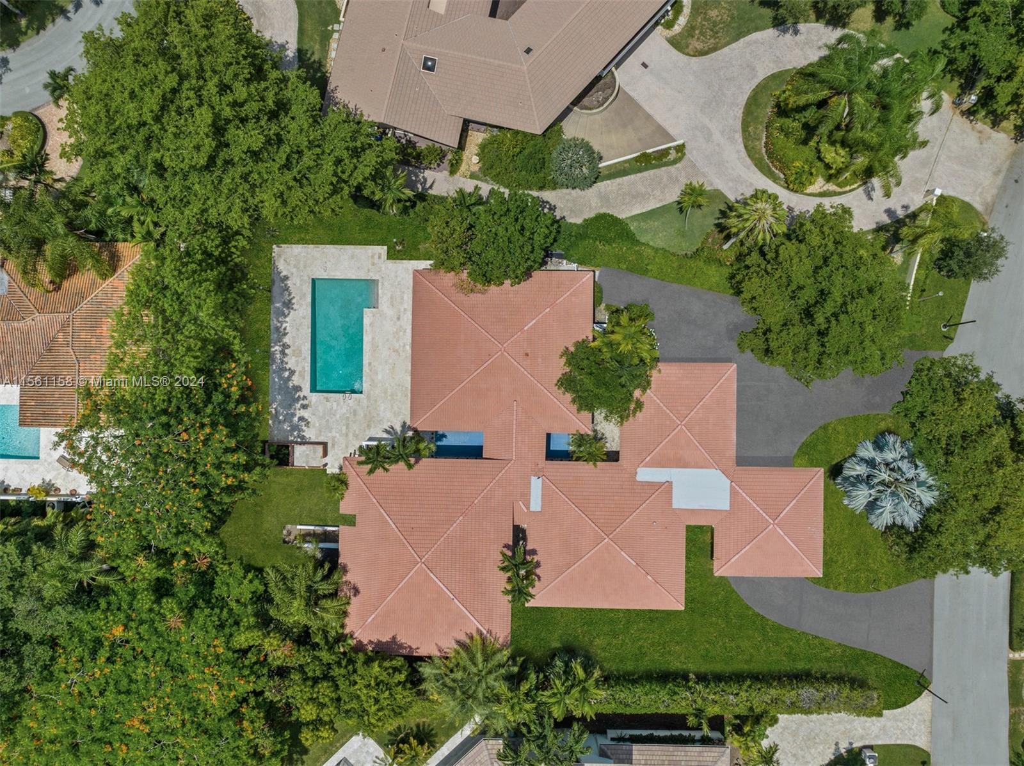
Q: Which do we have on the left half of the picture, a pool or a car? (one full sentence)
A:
There is a pool on the left half of the picture.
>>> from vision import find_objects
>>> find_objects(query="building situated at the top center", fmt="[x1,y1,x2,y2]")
[322,0,679,148]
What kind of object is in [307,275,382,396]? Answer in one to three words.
swimming pool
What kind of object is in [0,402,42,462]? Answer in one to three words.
swimming pool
